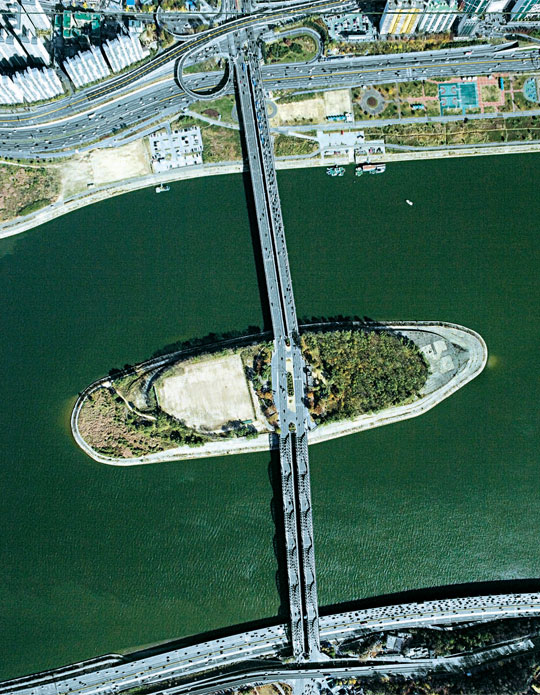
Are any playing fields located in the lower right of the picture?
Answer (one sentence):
No, there is no playing field in the lower right of the picture.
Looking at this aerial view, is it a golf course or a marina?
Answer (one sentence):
This image shows a marina.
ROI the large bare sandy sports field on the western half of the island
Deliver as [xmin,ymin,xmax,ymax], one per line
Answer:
[155,353,256,432]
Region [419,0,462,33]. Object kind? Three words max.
building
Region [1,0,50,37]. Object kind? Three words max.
building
